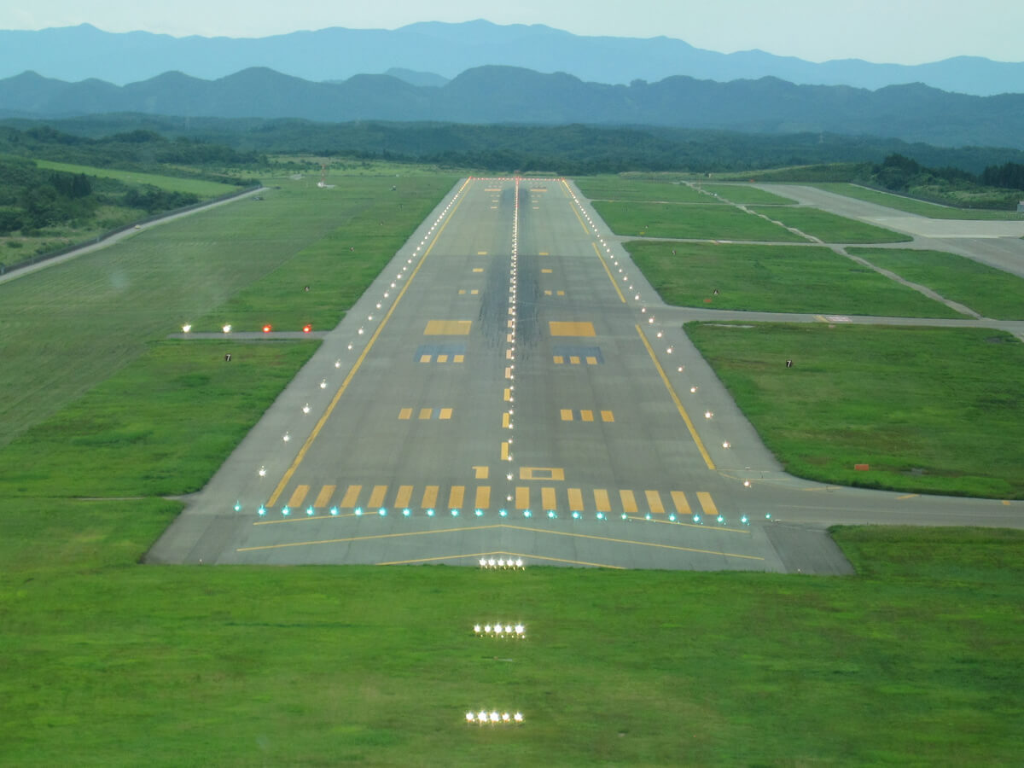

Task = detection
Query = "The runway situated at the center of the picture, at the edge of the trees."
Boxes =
[259,175,747,519]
